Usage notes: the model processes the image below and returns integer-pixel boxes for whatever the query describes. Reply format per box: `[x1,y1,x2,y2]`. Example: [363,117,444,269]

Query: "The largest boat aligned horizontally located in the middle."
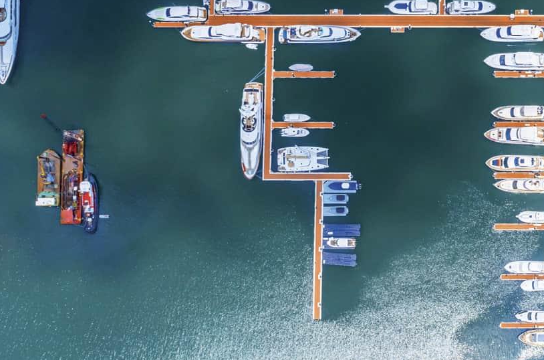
[277,147,329,171]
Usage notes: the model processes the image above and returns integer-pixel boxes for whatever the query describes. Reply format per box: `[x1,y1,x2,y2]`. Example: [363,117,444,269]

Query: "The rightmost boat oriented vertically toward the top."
[239,80,263,179]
